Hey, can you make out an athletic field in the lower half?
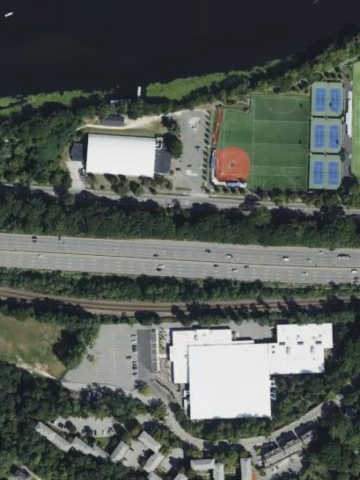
No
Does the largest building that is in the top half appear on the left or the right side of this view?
left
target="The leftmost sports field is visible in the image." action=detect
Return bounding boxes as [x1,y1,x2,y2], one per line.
[211,95,308,191]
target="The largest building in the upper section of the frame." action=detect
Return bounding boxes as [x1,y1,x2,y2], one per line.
[87,134,157,178]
